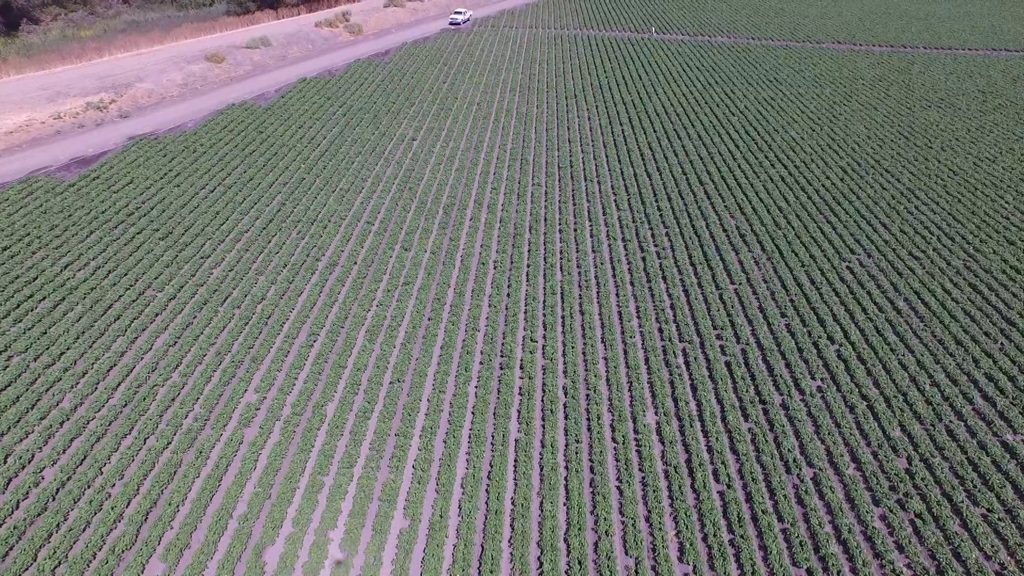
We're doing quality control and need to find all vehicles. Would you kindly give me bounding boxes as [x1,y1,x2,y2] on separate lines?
[450,9,473,25]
